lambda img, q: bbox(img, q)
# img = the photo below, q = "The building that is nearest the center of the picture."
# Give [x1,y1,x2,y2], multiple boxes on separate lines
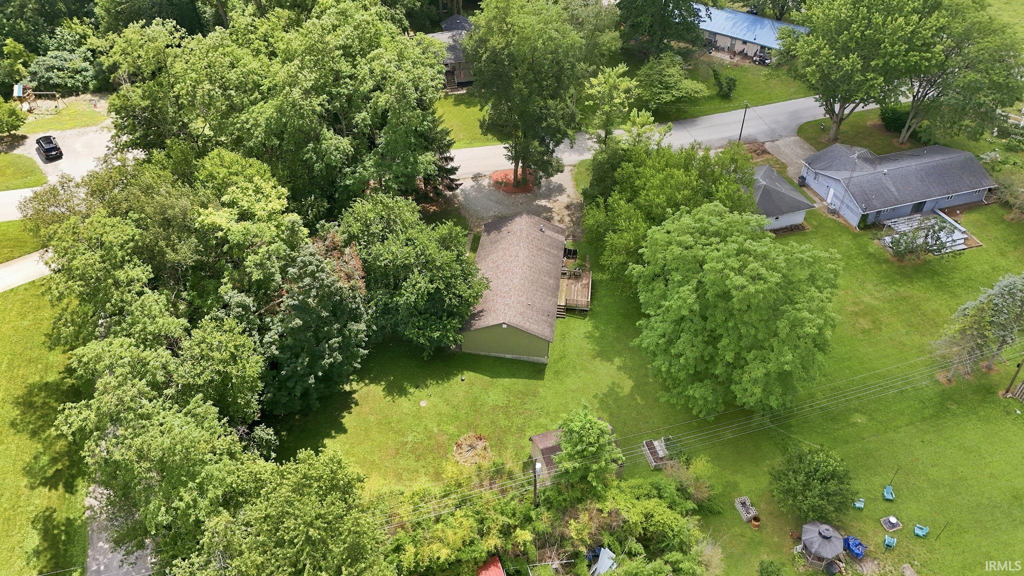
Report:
[457,212,567,360]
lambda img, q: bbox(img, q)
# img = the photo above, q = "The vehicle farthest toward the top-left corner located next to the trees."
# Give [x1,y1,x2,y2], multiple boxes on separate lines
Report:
[36,138,63,161]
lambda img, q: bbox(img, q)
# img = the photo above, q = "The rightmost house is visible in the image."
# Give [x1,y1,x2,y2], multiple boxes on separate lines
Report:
[800,143,999,228]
